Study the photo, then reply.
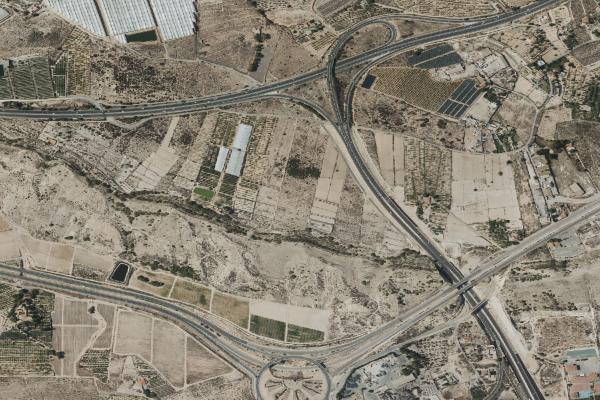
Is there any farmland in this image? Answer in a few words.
Yes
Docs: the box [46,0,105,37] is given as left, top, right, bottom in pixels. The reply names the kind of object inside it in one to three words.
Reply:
greenhouse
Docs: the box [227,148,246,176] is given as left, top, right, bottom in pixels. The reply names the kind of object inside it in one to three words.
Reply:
greenhouse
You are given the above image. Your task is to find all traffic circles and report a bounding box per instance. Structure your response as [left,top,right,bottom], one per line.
[256,355,330,400]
